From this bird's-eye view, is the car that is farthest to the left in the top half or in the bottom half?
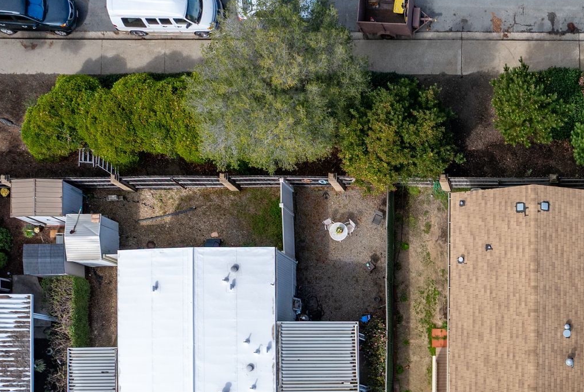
top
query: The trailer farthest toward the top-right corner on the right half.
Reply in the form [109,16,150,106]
[356,0,438,39]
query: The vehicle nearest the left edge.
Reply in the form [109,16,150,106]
[0,0,82,37]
